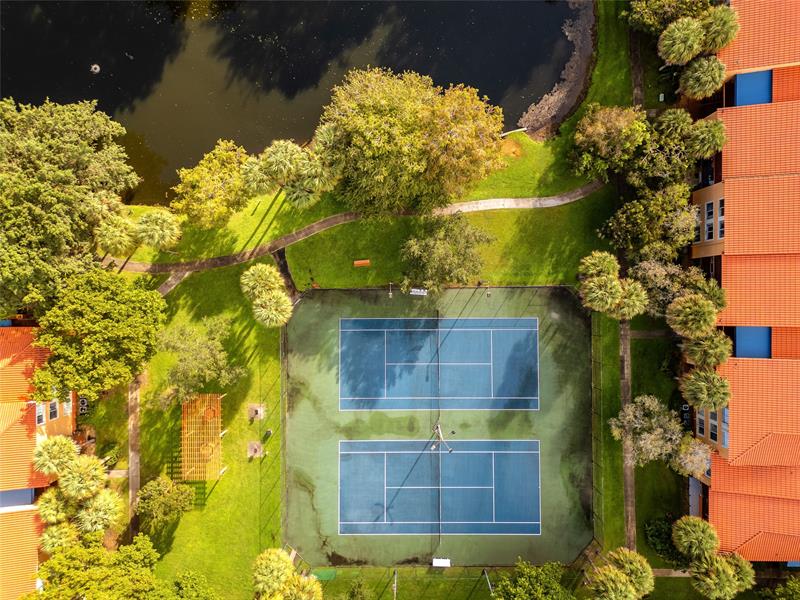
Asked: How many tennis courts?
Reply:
2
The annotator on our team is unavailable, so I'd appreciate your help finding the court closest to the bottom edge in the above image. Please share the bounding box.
[338,441,541,535]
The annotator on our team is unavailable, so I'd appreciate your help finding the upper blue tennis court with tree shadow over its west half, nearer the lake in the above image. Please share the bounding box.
[338,318,540,411]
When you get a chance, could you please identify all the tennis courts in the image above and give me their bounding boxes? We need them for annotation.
[338,441,541,535]
[338,318,540,411]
